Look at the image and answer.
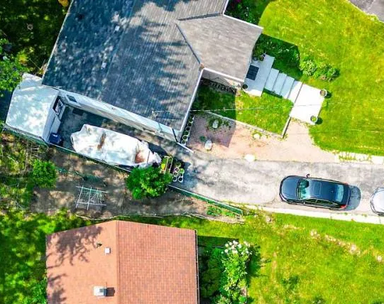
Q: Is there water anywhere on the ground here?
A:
No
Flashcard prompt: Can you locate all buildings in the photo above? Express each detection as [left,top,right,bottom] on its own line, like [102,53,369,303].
[44,224,200,304]
[40,0,264,141]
